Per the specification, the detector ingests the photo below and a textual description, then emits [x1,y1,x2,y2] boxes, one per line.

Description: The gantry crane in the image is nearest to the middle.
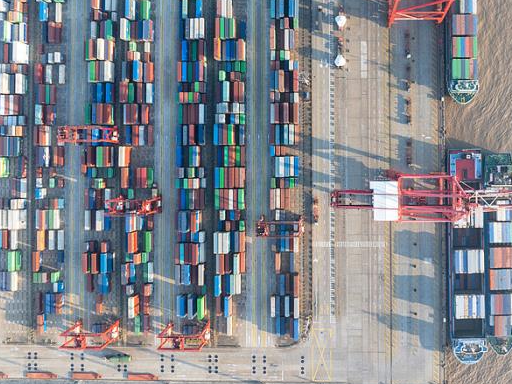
[254,211,305,237]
